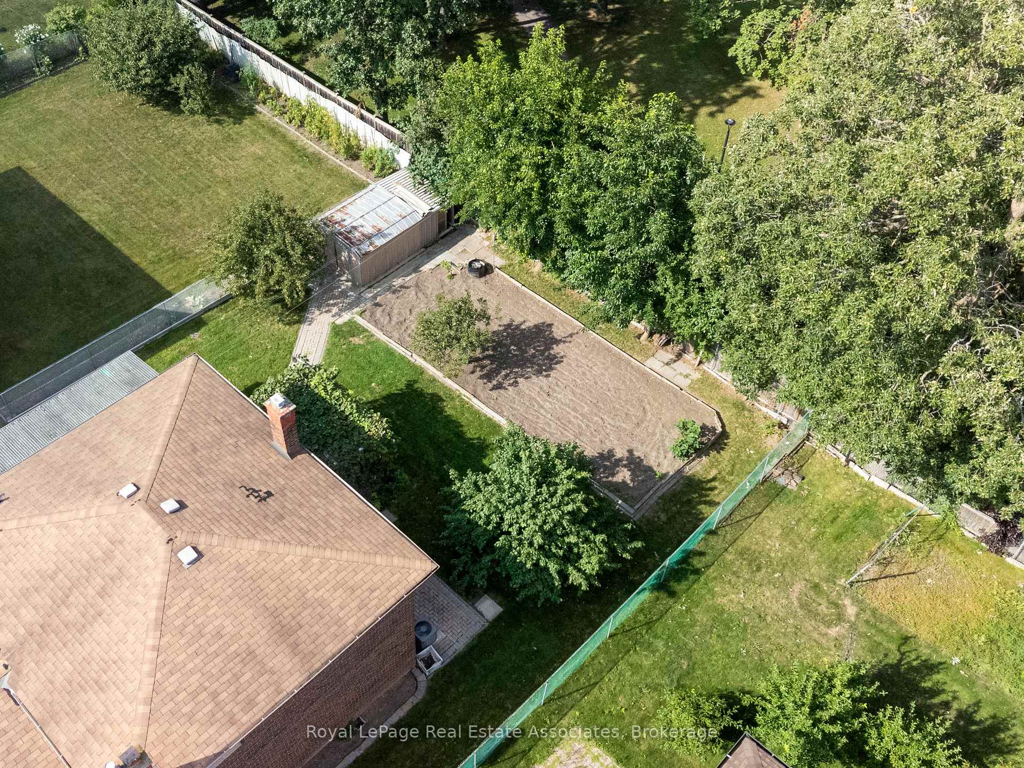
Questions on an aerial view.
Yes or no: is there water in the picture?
No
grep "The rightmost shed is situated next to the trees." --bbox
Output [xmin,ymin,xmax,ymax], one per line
[719,733,792,768]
